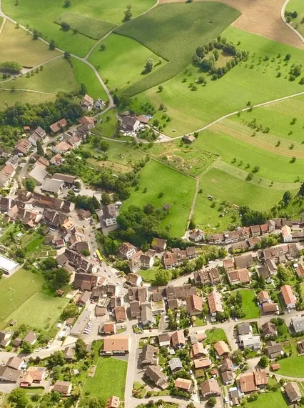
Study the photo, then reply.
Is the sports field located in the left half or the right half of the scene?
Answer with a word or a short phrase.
left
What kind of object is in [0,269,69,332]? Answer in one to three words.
sports field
